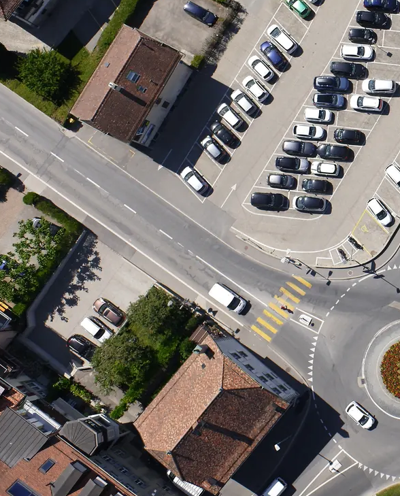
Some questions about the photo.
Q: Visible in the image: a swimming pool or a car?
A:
car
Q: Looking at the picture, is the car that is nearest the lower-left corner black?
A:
Yes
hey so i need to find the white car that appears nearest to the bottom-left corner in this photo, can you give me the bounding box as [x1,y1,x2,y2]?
[79,312,115,342]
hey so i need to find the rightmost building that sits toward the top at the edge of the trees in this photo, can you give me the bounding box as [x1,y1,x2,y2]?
[70,23,190,144]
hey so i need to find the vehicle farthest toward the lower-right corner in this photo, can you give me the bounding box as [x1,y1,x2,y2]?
[343,398,377,432]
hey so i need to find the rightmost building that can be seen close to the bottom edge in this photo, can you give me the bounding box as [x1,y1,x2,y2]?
[134,334,297,496]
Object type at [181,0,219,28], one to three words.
car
